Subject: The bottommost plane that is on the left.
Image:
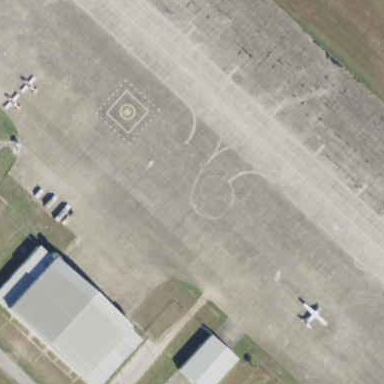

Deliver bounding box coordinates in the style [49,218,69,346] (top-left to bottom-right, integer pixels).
[6,95,20,110]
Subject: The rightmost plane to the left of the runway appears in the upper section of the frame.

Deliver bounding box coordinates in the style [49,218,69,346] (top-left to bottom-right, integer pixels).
[22,78,37,94]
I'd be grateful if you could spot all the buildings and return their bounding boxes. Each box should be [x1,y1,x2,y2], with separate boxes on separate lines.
[176,334,240,384]
[0,244,142,384]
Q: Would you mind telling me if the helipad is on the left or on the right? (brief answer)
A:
left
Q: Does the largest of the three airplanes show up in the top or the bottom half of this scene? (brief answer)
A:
bottom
